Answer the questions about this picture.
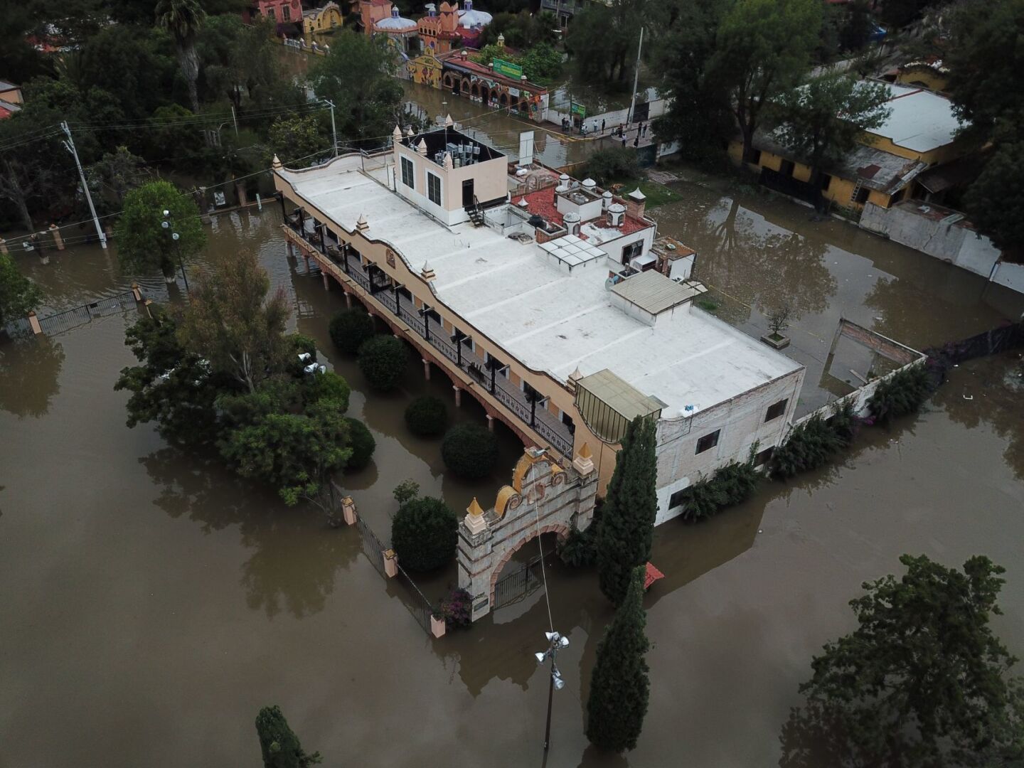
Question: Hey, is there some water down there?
Yes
